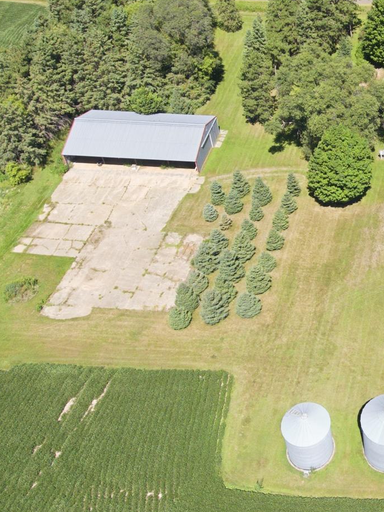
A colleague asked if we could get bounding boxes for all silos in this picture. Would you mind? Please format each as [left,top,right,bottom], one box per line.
[284,402,338,476]
[362,395,384,473]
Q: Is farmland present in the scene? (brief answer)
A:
Yes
